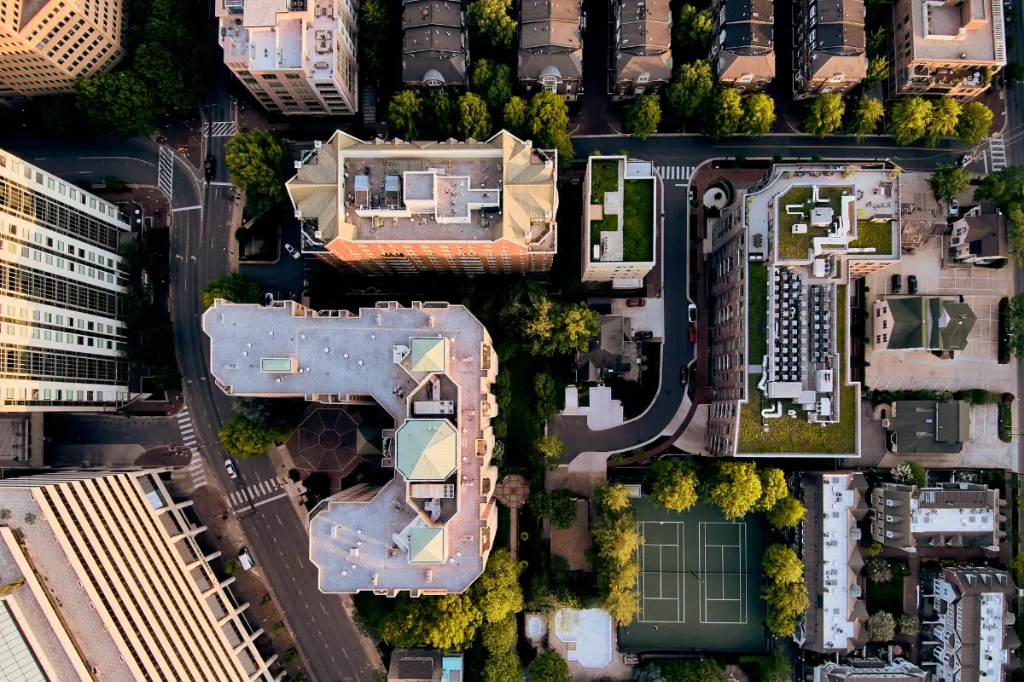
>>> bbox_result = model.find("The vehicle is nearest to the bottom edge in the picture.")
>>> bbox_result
[239,546,253,571]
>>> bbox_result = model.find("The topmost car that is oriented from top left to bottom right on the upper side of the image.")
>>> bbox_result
[284,243,302,260]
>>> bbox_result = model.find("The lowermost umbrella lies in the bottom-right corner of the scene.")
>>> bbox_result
[889,643,904,658]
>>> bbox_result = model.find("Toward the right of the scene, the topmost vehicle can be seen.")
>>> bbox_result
[952,152,971,164]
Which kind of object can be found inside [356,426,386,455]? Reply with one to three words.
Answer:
building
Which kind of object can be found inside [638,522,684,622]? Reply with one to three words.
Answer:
tennis court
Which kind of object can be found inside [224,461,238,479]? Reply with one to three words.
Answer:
car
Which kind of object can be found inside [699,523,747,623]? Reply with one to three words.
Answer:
tennis court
